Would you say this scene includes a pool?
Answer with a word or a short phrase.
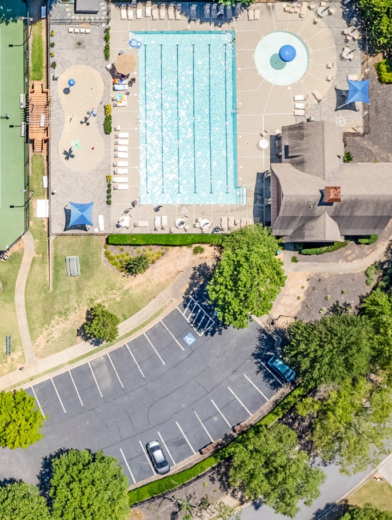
Yes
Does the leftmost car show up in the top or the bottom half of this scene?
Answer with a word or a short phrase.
bottom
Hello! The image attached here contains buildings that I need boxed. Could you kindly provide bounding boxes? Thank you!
[264,121,392,242]
[75,0,99,18]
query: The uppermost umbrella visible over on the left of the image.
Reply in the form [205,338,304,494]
[113,52,136,76]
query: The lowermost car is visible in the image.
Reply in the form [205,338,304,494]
[146,439,171,475]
